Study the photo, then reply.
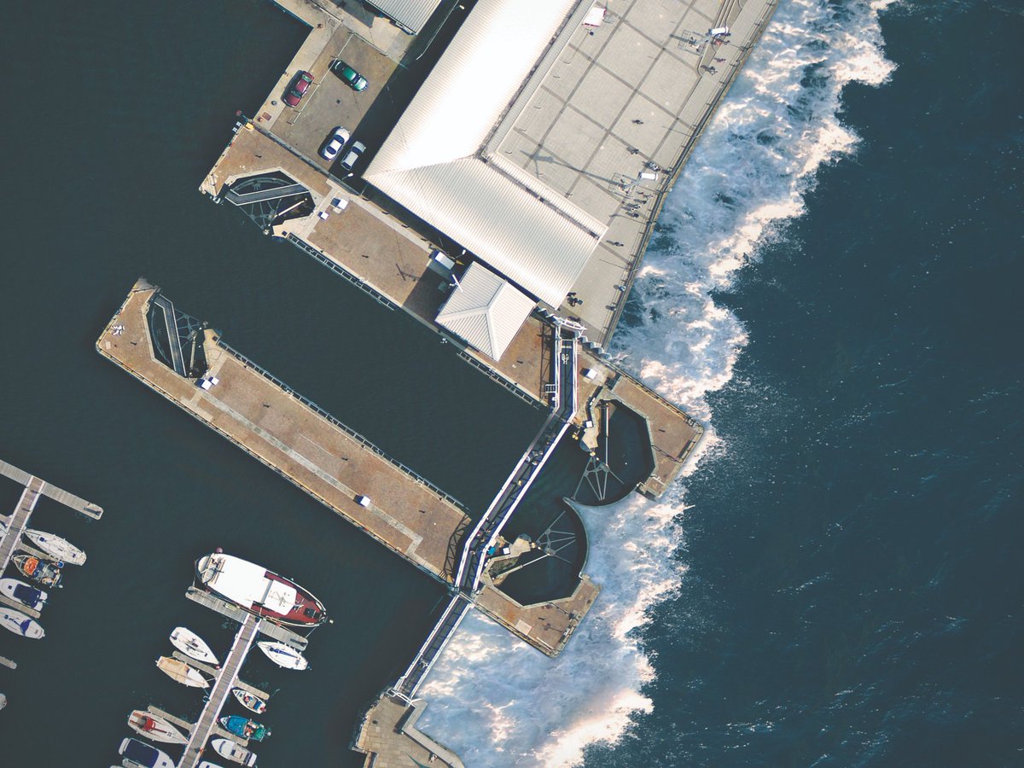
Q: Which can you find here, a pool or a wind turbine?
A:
wind turbine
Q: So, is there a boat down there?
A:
Yes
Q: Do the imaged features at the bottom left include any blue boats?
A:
Yes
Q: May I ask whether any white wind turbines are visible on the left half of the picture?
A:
No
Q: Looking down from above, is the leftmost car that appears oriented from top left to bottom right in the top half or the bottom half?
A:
top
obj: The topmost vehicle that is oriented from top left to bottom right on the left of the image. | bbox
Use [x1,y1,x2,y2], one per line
[331,58,366,90]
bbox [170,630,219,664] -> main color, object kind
white boat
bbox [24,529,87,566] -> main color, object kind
white boat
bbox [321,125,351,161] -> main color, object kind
white car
